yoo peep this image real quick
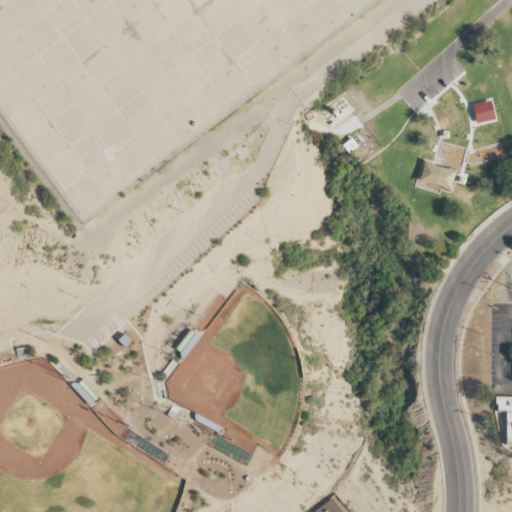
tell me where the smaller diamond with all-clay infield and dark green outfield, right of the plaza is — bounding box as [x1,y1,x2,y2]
[166,286,302,455]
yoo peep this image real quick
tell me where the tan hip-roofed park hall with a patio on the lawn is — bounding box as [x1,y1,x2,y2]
[418,159,458,192]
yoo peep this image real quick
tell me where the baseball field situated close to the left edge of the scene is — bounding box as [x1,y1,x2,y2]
[0,358,183,512]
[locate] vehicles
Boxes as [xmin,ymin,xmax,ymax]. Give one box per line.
[419,92,428,102]
[438,78,447,88]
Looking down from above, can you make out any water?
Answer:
Yes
